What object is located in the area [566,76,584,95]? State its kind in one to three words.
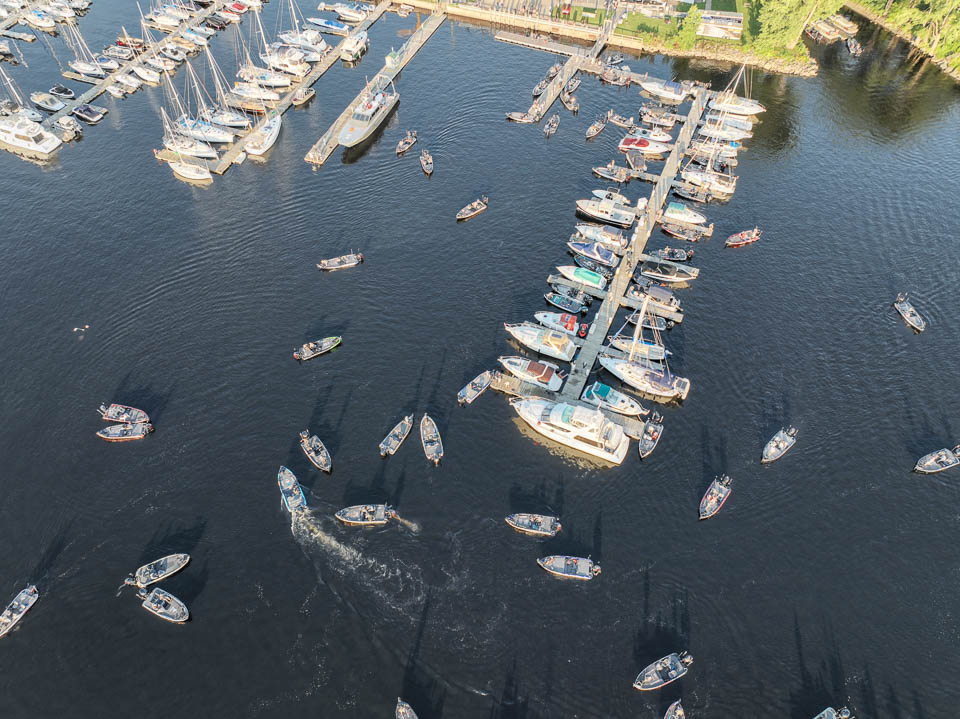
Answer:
boat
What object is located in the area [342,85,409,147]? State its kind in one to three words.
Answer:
ship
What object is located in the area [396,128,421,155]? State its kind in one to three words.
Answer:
boat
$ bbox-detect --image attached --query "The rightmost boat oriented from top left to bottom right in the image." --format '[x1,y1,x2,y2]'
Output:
[891,300,924,332]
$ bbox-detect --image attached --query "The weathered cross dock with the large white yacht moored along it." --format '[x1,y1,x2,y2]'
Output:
[490,374,646,440]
